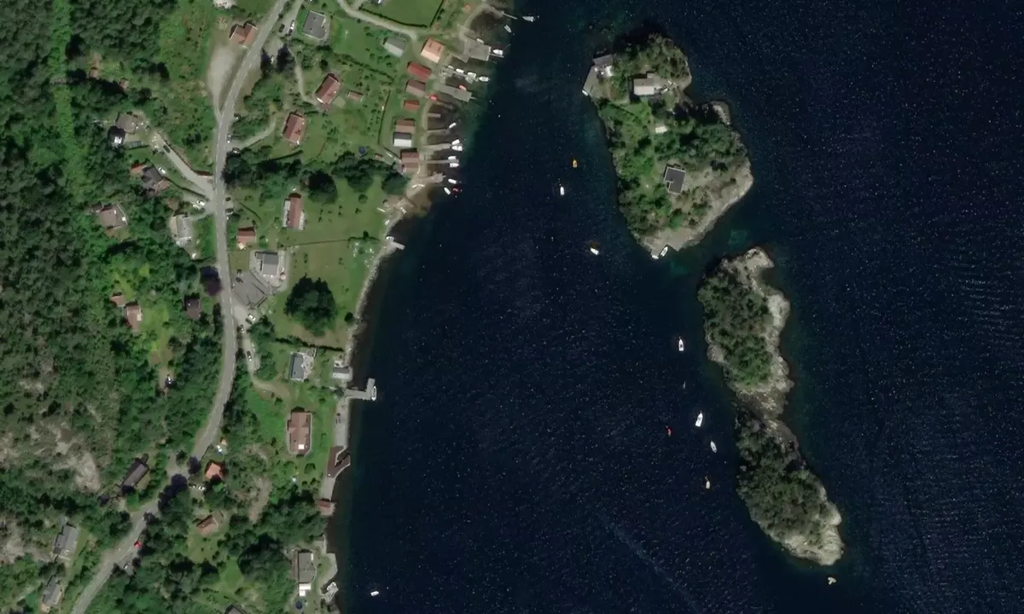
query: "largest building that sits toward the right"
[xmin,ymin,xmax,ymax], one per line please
[630,72,674,102]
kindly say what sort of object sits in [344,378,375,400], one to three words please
pier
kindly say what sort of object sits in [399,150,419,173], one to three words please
building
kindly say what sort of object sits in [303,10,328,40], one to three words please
house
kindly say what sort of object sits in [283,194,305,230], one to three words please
house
